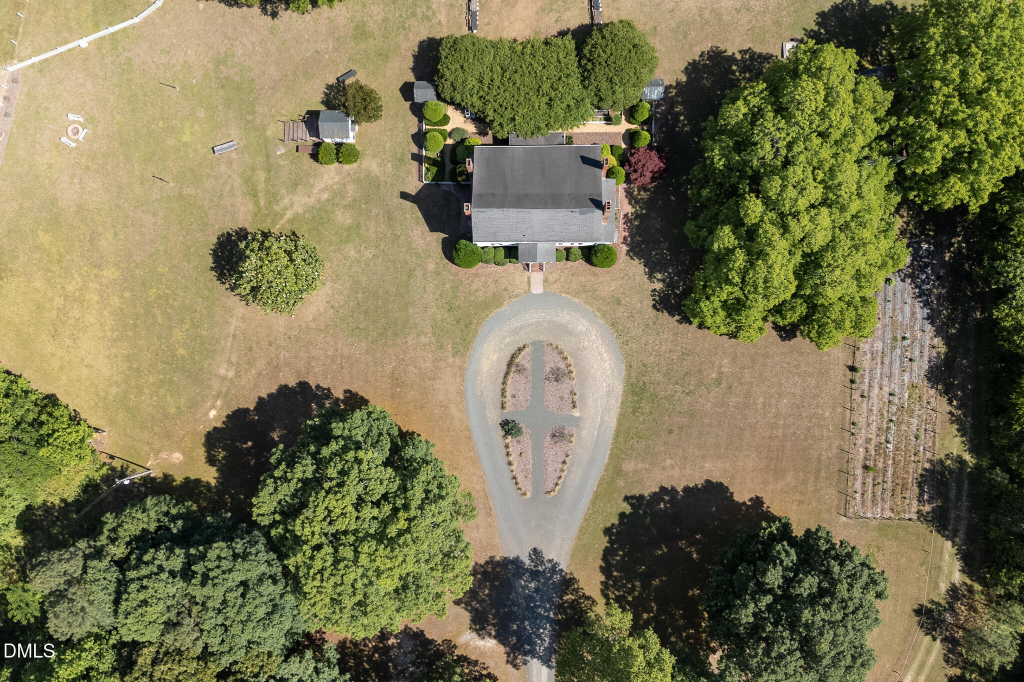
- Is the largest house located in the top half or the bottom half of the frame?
top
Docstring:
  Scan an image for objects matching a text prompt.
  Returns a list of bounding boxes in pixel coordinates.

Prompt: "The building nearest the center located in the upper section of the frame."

[464,132,616,274]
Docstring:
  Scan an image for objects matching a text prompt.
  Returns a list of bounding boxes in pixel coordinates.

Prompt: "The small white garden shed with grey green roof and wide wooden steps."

[317,111,354,142]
